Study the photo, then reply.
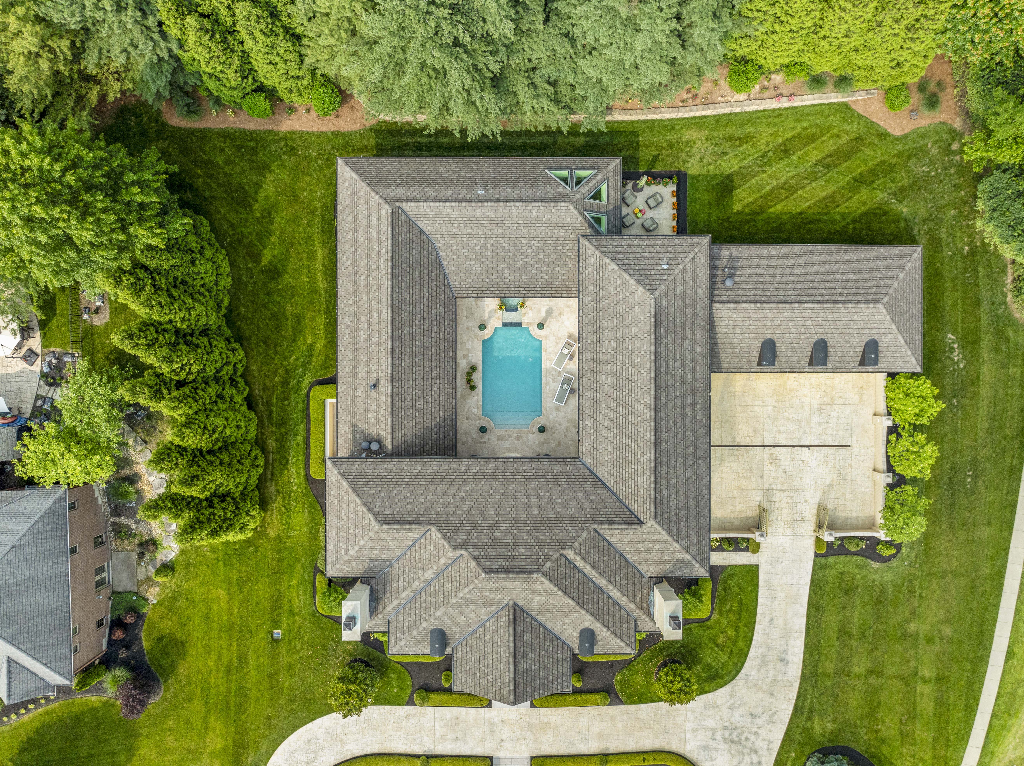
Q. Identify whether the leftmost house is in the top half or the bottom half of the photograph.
bottom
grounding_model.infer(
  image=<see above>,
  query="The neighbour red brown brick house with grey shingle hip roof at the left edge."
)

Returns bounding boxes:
[0,484,112,700]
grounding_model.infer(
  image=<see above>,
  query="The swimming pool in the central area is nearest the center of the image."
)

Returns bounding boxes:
[477,322,547,434]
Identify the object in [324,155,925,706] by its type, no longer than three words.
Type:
house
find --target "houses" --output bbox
[0,484,112,700]
[324,155,925,706]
